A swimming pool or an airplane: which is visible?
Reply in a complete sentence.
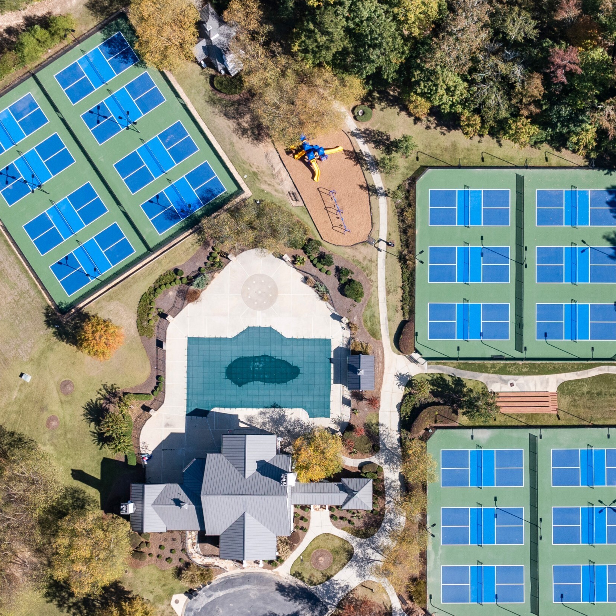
The image shows a swimming pool.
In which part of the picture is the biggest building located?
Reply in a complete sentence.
The biggest building appears toward the bottom of the photo.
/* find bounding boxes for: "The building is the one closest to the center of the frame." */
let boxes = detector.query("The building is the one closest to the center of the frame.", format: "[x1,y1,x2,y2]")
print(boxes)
[348,355,375,390]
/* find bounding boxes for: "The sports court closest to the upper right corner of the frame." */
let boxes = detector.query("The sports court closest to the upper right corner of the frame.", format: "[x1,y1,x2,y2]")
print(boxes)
[536,187,616,229]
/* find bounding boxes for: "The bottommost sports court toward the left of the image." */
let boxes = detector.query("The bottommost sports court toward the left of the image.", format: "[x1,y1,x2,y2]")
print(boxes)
[48,222,136,297]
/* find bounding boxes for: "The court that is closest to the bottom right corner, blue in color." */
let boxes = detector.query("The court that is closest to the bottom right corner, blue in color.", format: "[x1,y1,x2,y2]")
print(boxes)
[553,563,616,605]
